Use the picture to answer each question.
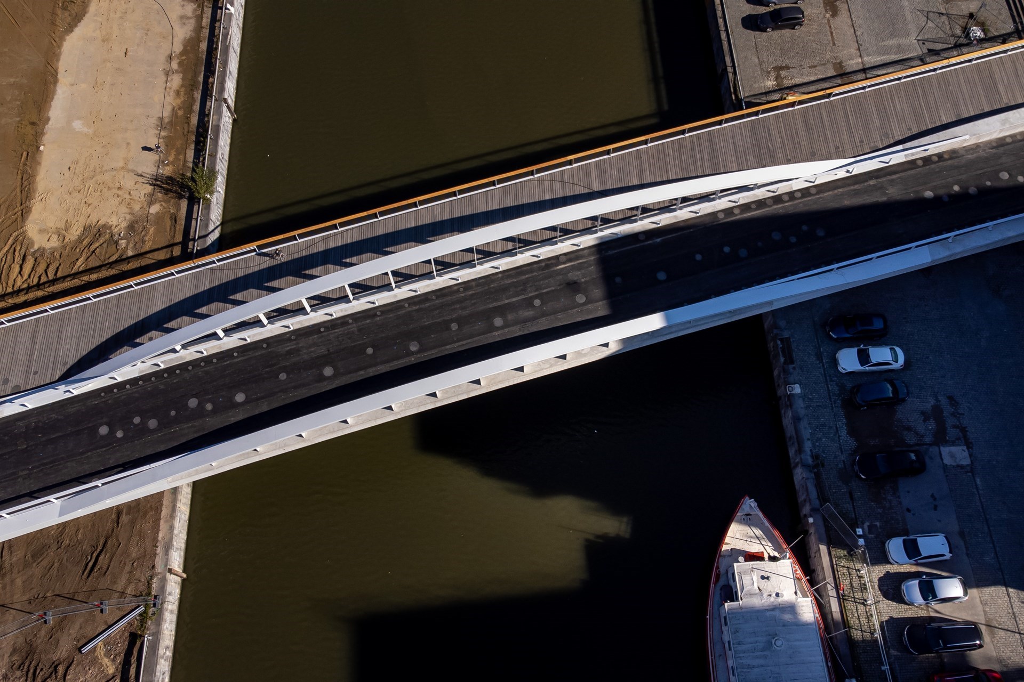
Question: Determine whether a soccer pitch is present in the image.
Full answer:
No, the frame has no soccer pitch in it.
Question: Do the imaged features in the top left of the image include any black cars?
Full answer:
No, the scene shows no black car in the top left of the image.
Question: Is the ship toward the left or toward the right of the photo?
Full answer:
The ship appears in the right half of the scene.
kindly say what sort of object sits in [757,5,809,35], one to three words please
car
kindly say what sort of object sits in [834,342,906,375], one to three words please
car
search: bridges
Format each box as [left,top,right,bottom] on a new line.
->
[0,41,1024,545]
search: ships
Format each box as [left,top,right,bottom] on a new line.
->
[704,496,836,682]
